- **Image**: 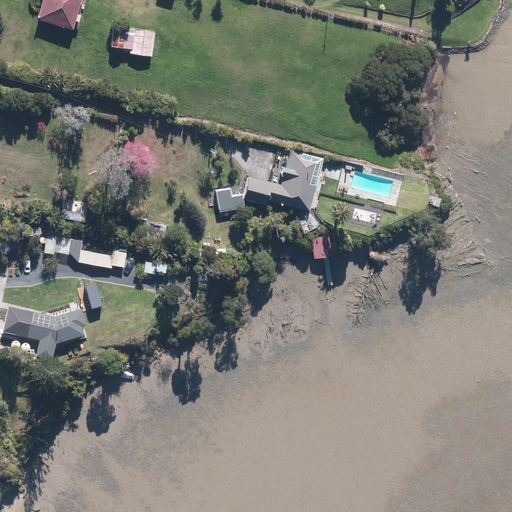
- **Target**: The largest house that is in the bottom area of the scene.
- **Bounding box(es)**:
[2,306,88,356]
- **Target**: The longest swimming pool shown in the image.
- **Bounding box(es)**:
[338,164,403,206]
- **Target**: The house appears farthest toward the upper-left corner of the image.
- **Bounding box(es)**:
[38,0,84,29]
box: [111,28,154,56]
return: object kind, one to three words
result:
shed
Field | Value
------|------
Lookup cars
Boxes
[124,259,135,276]
[24,260,31,274]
